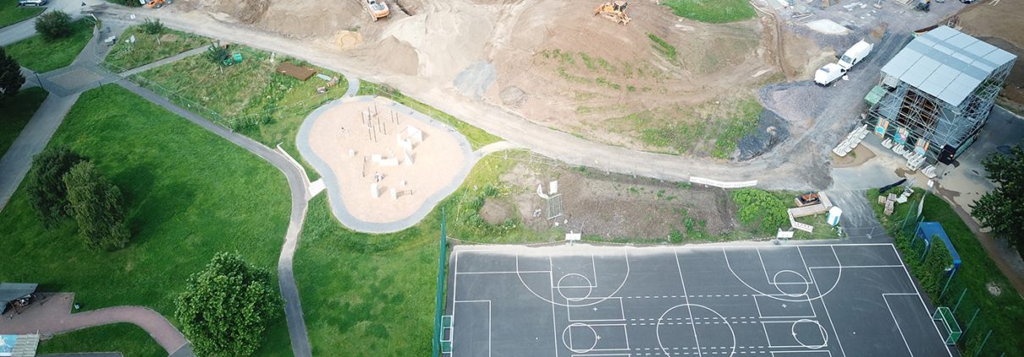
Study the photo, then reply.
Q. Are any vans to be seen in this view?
Yes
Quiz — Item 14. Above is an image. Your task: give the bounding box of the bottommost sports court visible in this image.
[434,239,964,357]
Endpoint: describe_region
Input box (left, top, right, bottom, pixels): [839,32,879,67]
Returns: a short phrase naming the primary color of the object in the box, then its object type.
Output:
white van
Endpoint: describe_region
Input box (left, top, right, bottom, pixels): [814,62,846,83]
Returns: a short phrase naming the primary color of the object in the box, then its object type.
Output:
white vehicle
